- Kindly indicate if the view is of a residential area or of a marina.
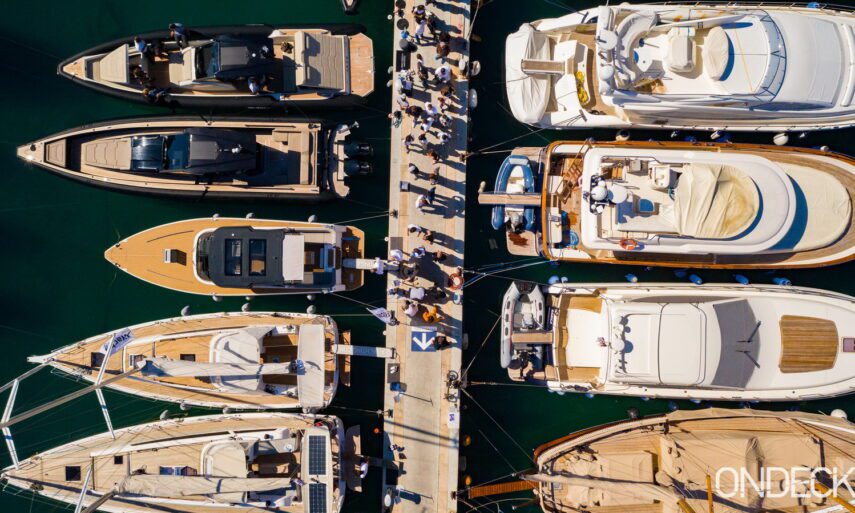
marina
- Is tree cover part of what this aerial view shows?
No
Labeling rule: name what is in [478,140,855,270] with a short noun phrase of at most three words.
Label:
boat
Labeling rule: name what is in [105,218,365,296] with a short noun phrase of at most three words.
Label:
boat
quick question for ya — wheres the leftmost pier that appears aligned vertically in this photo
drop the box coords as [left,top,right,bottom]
[383,0,471,513]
